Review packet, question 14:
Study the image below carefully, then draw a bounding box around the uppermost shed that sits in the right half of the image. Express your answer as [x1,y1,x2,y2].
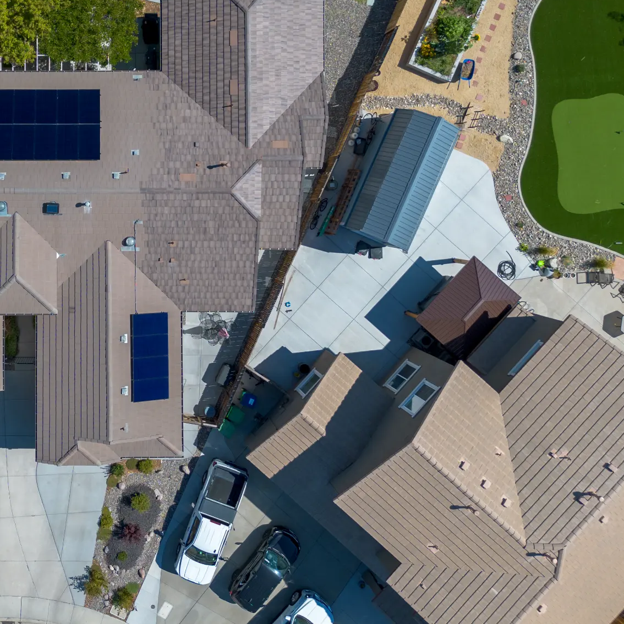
[336,105,462,253]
